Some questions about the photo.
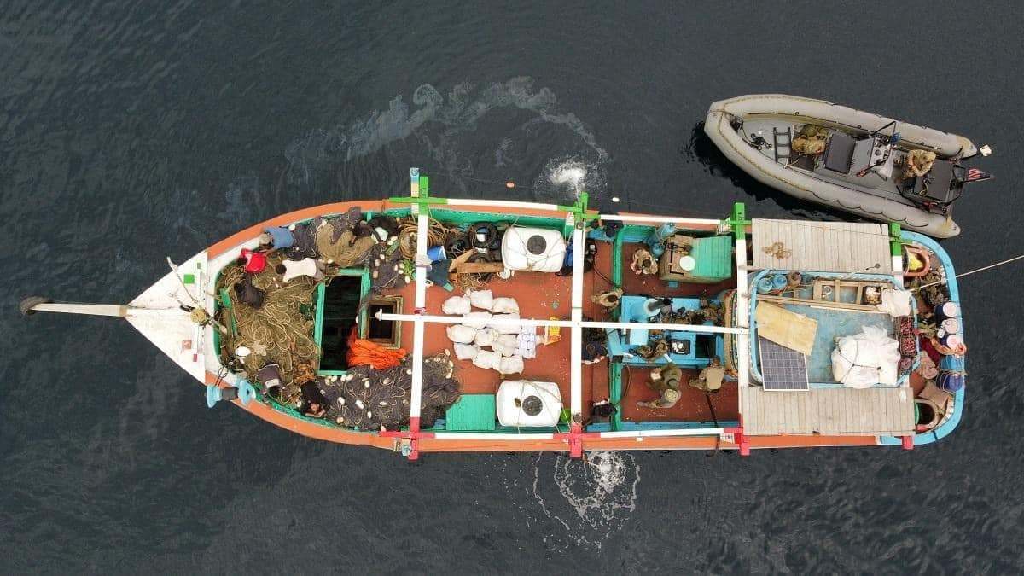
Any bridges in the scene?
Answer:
No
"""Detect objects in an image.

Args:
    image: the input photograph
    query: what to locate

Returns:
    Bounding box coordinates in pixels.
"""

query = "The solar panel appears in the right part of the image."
[758,336,811,392]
